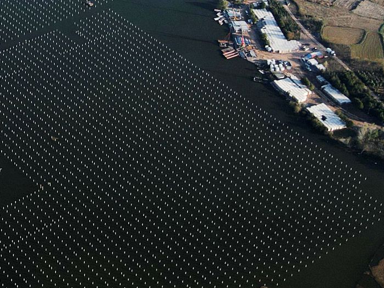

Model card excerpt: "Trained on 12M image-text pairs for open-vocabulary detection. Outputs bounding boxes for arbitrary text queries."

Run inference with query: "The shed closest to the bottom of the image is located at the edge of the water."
[306,103,347,136]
